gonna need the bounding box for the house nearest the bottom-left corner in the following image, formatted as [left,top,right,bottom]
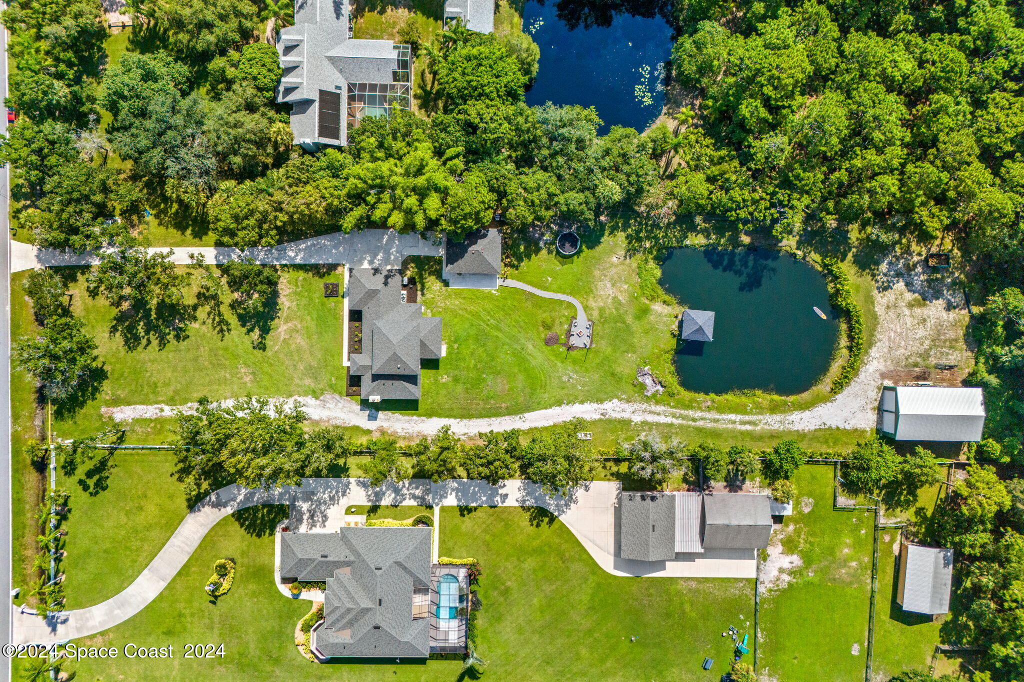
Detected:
[281,526,433,657]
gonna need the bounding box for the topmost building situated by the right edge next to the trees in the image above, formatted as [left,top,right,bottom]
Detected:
[883,386,988,441]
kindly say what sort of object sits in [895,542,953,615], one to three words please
shed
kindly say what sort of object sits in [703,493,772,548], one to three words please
building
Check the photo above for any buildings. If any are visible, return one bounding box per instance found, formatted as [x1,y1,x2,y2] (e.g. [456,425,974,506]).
[281,526,433,657]
[680,309,715,341]
[446,228,501,274]
[276,0,396,152]
[348,267,442,403]
[703,493,772,548]
[444,0,494,35]
[895,542,953,615]
[883,386,988,441]
[620,492,675,561]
